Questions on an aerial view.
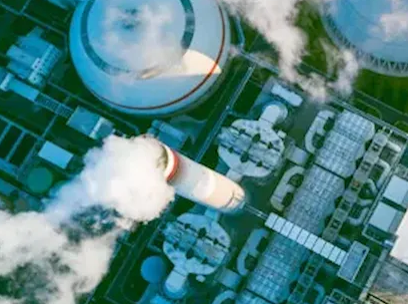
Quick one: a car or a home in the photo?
home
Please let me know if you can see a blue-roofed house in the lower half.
Yes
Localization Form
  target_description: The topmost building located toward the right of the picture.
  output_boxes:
[270,84,302,106]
